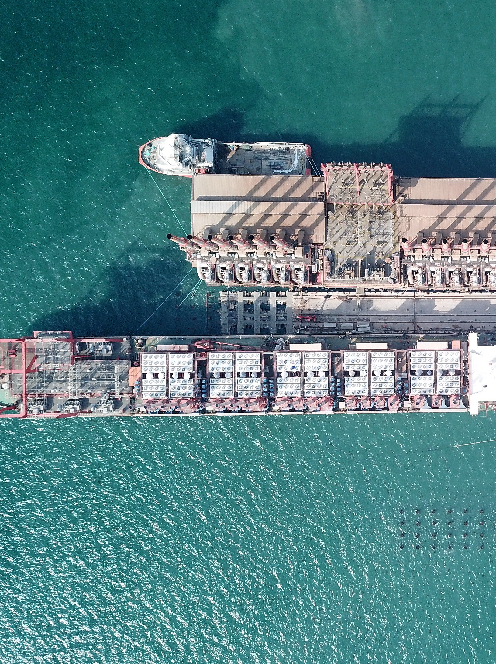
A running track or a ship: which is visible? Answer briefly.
ship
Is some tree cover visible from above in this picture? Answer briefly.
No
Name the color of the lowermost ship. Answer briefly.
white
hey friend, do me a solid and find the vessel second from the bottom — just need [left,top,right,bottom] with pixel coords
[165,159,496,311]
